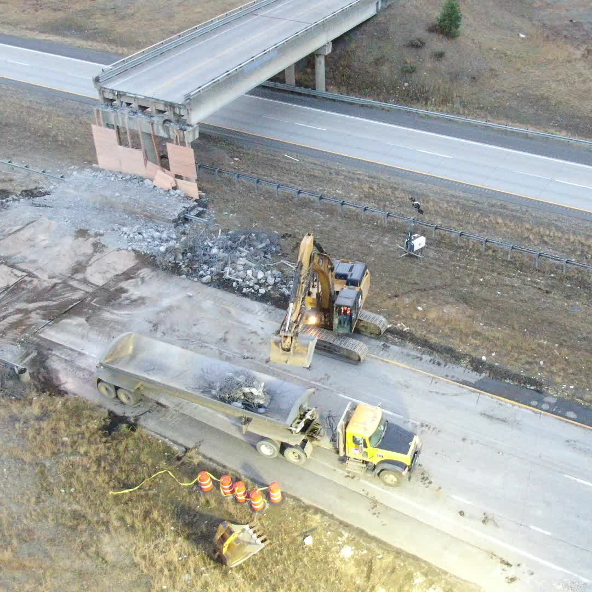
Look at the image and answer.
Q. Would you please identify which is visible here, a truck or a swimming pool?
truck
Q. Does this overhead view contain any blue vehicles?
No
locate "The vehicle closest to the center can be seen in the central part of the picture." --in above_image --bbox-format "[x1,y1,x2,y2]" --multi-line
[270,231,384,372]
